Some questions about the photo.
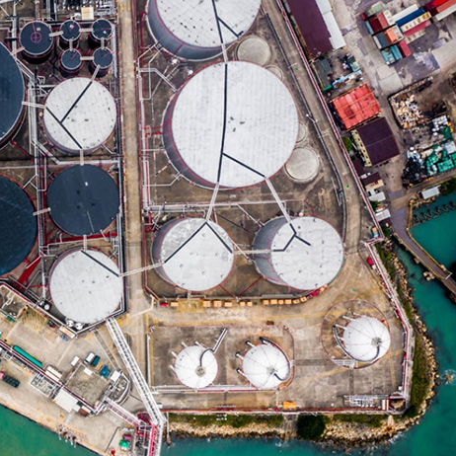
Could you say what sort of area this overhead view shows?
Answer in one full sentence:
The area seen from above is an industrial area.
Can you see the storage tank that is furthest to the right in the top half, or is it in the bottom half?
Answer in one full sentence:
You can find the storage tank that is furthest to the right in the bottom half.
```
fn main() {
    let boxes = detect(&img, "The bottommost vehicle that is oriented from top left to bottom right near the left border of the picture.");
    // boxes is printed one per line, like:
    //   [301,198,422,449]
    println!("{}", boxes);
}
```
[0,370,20,387]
